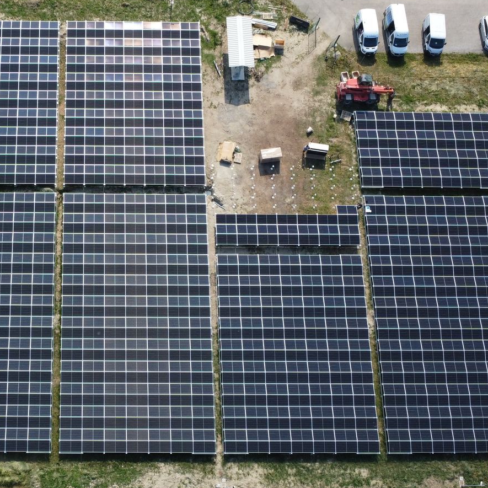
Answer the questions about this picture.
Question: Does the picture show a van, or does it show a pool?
van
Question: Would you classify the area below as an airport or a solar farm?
solar farm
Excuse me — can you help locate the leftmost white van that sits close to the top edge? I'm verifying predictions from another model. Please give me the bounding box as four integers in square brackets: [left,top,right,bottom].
[354,6,384,57]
